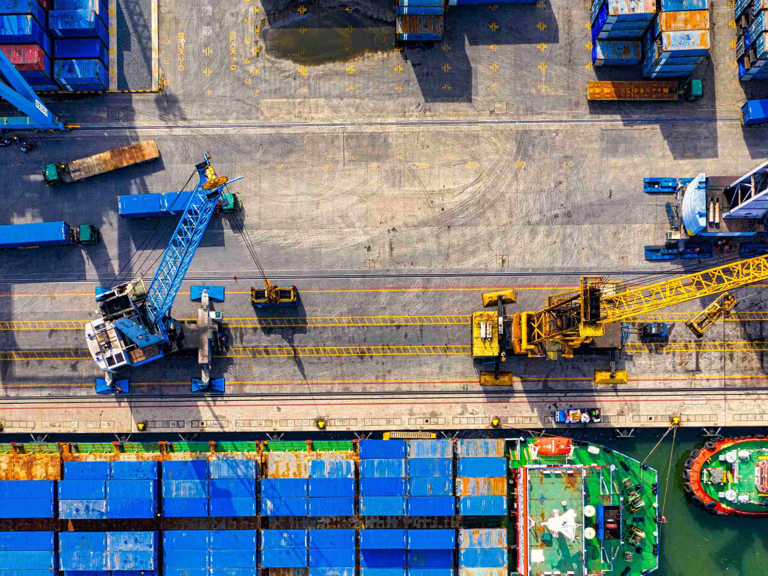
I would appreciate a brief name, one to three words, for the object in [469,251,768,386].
crane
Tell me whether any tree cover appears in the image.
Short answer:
No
